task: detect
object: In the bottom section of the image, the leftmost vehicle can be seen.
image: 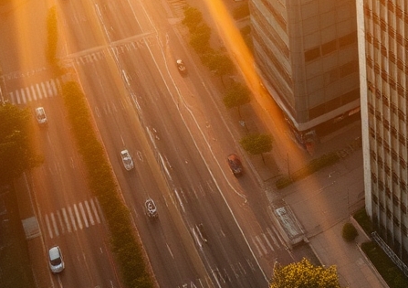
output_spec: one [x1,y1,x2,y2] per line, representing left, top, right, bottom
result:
[46,242,66,270]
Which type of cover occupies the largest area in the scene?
paved ground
